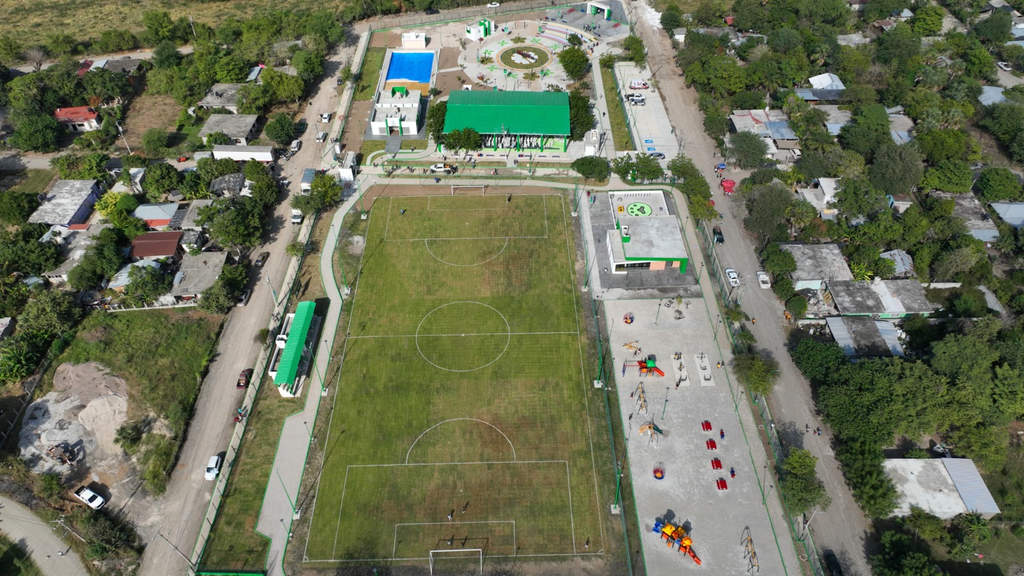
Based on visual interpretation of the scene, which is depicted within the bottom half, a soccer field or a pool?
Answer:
soccer field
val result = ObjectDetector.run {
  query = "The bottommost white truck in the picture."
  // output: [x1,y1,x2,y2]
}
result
[70,482,103,508]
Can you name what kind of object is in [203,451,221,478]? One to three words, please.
car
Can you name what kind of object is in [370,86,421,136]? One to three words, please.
building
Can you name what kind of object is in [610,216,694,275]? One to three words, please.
building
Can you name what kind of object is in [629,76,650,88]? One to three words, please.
vehicle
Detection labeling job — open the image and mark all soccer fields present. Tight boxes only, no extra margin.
[301,192,606,566]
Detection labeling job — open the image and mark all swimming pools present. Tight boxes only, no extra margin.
[372,46,440,98]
